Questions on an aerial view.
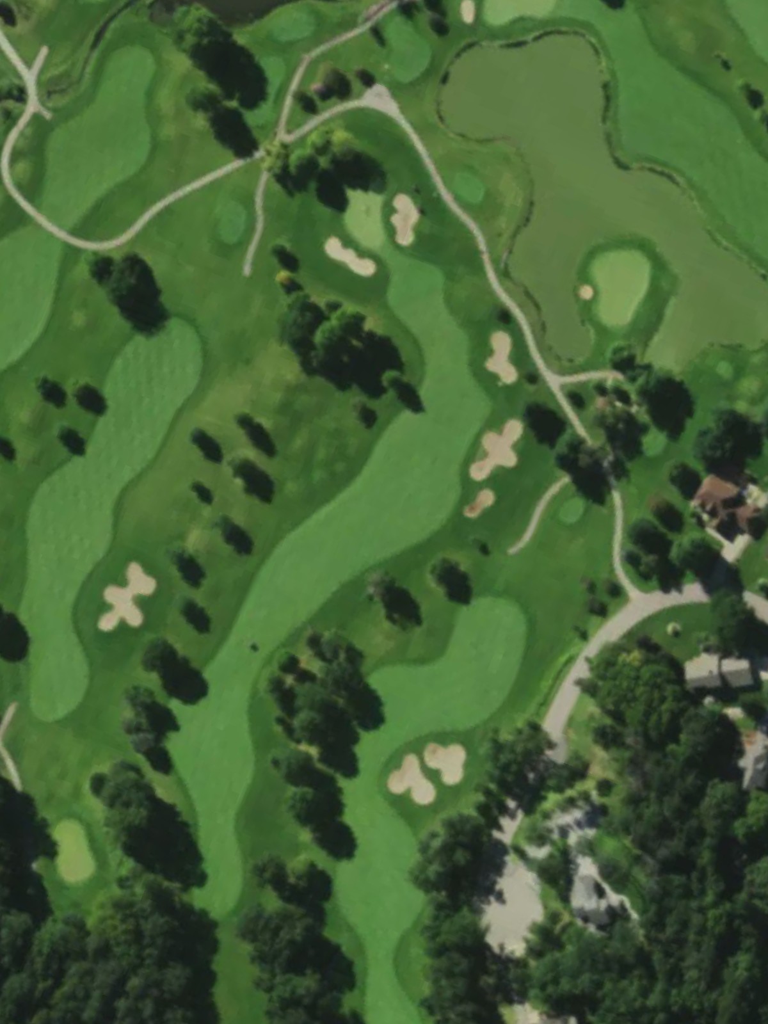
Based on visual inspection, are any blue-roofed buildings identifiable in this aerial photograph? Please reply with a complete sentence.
No, there appears to be no blue-roofed building in this shot.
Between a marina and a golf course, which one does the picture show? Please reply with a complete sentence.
It's a golf course.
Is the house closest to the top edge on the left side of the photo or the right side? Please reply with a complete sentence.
The house closest to the top edge is on the right side of the image.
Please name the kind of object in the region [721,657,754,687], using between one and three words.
building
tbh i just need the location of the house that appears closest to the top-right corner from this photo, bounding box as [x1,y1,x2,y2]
[693,473,752,535]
